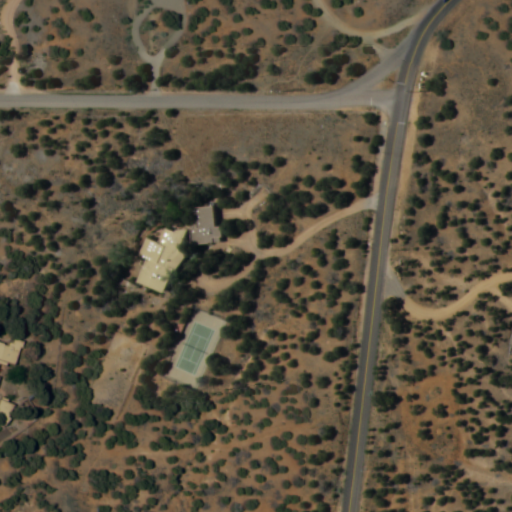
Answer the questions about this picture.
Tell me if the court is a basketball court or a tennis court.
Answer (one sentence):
It turns out the court is a tennis court.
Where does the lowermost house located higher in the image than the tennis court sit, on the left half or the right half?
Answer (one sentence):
You can find the lowermost house located higher in the image than the tennis court on the left side of the picture.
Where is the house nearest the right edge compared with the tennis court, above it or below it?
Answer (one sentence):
In the image, the house nearest the right edge appears above the tennis court.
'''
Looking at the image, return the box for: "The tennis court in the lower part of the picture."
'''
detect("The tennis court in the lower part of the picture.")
[171,311,226,388]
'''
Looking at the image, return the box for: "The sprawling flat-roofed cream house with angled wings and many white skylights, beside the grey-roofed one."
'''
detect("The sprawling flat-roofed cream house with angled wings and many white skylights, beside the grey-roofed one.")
[136,228,186,294]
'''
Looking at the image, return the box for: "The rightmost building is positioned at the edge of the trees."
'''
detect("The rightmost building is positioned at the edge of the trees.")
[191,206,221,244]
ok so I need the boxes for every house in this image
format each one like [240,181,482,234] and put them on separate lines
[191,206,221,244]
[136,228,186,294]
[0,340,24,366]
[0,397,15,426]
